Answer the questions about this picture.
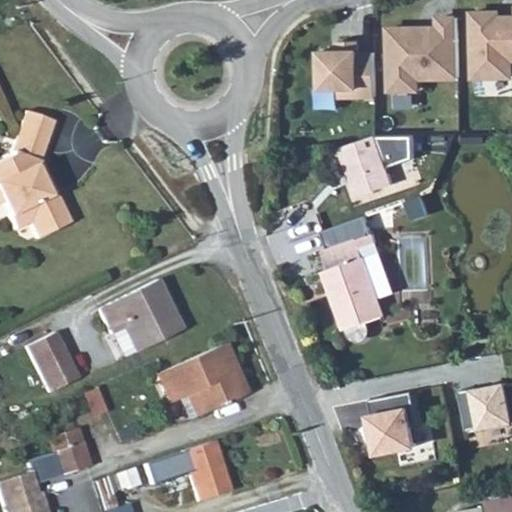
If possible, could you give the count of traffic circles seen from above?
1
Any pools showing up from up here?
Yes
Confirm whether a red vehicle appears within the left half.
No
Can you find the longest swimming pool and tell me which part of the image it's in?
right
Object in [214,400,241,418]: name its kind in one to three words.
vehicle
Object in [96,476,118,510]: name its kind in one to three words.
building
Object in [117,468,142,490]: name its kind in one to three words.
shed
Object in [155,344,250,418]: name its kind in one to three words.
house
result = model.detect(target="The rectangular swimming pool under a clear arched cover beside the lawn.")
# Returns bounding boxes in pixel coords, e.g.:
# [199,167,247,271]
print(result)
[397,232,432,292]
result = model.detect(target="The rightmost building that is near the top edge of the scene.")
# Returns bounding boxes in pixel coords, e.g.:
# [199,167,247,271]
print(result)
[464,10,512,82]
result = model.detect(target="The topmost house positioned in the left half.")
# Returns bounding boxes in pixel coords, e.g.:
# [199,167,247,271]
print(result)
[0,110,74,238]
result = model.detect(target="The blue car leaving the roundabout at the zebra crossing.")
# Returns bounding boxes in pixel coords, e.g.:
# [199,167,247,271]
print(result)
[186,138,202,160]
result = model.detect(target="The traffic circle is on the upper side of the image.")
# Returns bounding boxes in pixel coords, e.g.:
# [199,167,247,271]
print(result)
[136,15,250,129]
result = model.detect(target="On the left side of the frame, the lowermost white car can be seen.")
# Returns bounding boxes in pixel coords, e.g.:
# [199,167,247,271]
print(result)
[46,480,70,494]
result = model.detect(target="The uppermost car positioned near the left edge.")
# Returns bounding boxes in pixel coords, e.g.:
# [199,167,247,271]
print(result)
[6,328,30,345]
